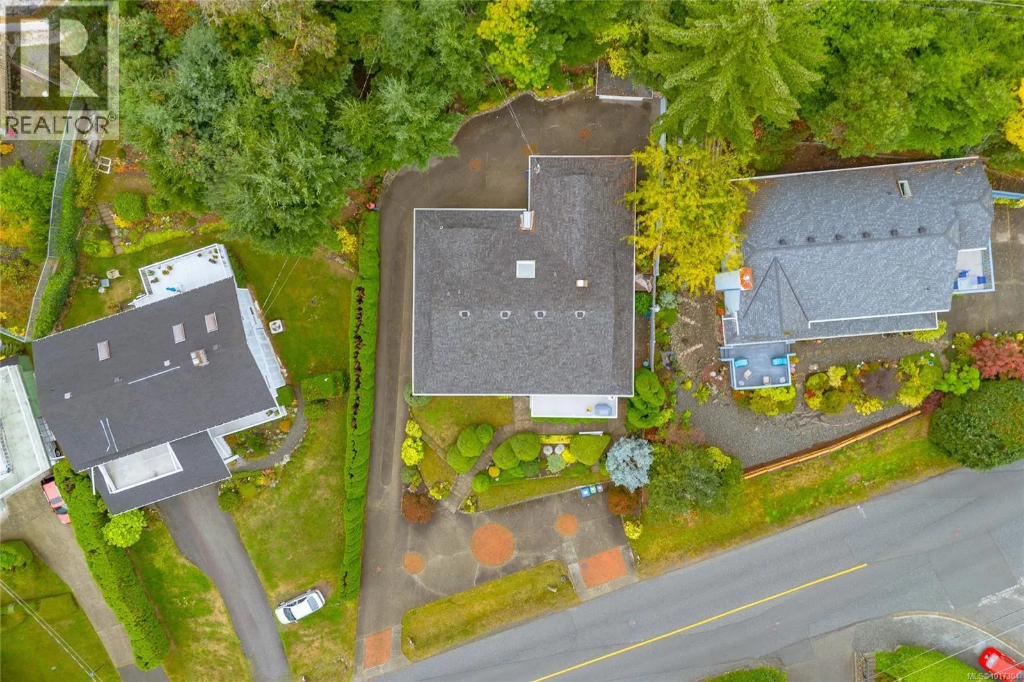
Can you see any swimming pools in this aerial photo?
No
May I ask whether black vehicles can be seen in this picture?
No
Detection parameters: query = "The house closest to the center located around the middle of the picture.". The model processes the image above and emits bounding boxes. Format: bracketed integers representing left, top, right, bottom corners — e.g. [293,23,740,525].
[412,148,639,419]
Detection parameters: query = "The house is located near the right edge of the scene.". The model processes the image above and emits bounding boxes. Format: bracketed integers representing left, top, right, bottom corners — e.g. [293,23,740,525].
[710,157,1001,389]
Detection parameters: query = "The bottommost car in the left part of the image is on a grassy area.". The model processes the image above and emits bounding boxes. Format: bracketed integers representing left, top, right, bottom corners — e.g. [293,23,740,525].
[275,587,328,622]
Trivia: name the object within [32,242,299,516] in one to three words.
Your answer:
house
